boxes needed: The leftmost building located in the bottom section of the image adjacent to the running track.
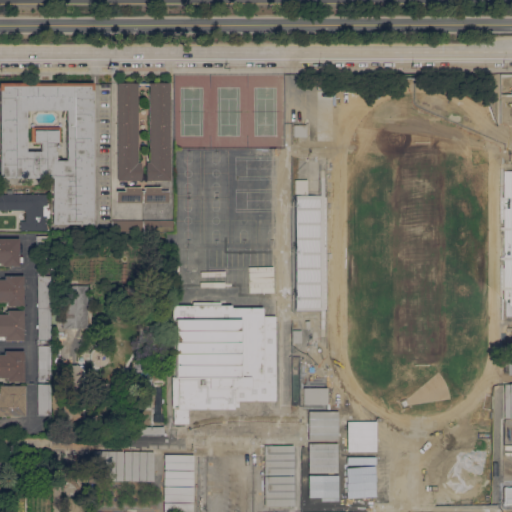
[172,302,276,426]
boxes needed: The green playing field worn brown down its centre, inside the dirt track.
[347,147,487,415]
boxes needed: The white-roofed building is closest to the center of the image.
[249,267,274,294]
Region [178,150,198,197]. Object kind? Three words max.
basketball court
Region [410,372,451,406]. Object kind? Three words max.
baseball field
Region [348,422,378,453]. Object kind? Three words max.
building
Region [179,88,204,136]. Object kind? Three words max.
tennis court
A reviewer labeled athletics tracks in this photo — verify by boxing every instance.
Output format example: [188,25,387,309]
[335,111,499,427]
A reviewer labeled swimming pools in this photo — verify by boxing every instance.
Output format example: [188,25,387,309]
[34,112,56,124]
